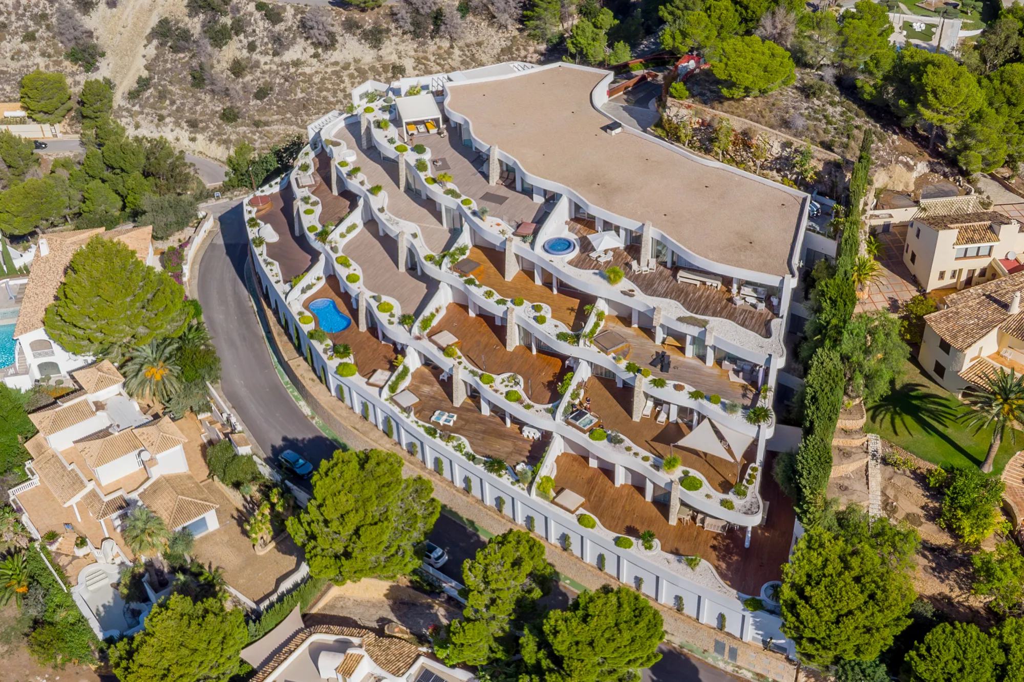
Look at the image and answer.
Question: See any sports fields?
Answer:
No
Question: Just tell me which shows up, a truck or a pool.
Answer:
pool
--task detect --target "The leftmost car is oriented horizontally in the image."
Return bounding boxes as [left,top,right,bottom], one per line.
[17,140,51,153]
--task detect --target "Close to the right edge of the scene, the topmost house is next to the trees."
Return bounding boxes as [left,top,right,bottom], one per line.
[905,203,1024,306]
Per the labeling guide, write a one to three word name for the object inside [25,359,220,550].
house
